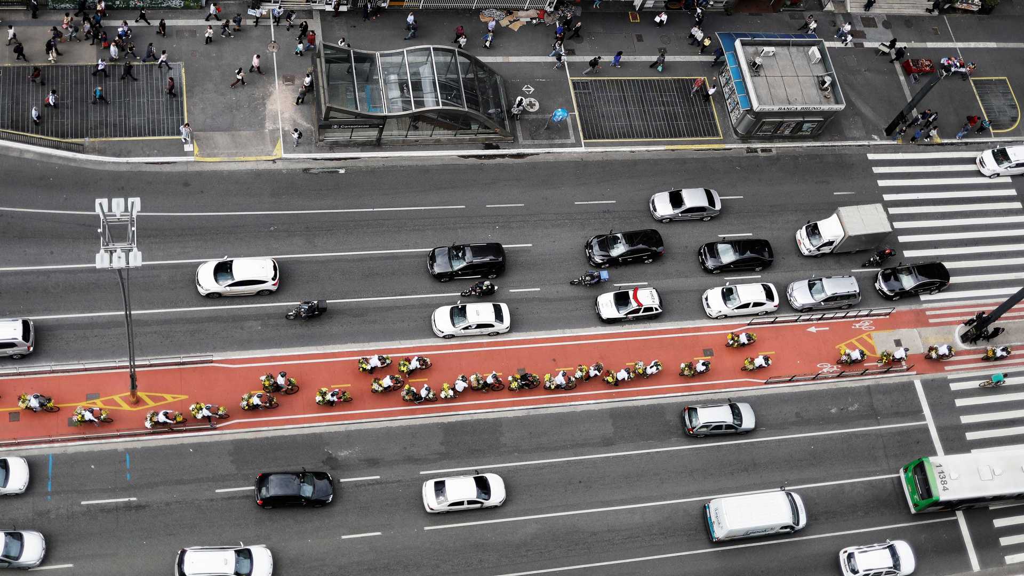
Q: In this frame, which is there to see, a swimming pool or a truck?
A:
truck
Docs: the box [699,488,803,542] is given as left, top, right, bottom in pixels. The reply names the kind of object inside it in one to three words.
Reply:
van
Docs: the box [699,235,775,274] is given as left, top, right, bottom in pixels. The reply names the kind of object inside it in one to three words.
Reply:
car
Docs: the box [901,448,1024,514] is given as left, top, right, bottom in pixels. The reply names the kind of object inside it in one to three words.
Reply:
bus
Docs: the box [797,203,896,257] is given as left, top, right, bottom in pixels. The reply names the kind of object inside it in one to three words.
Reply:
truck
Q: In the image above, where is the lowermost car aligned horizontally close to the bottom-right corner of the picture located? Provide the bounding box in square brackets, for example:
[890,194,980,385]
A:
[841,540,917,576]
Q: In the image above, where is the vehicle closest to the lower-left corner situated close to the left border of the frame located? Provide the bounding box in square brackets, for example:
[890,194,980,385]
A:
[0,524,47,571]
